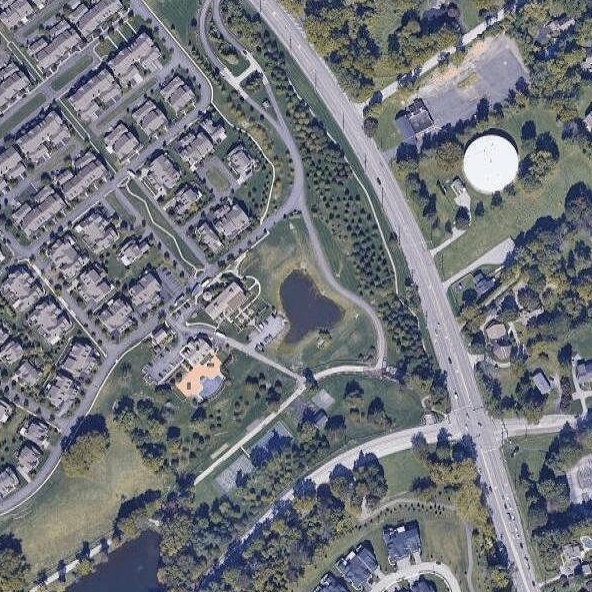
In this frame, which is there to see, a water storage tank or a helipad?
water storage tank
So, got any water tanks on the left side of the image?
No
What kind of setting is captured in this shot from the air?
residential area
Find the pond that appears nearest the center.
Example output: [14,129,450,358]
[279,269,343,345]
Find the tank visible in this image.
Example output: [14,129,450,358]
[463,137,520,192]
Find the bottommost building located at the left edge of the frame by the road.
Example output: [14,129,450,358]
[0,466,21,496]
